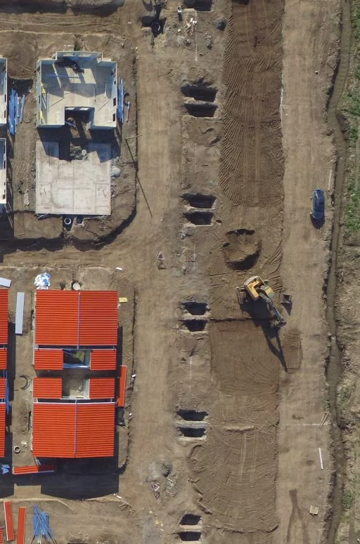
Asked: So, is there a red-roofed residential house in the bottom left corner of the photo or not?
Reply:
Yes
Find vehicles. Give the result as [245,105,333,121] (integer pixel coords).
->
[235,277,286,330]
[306,190,325,220]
